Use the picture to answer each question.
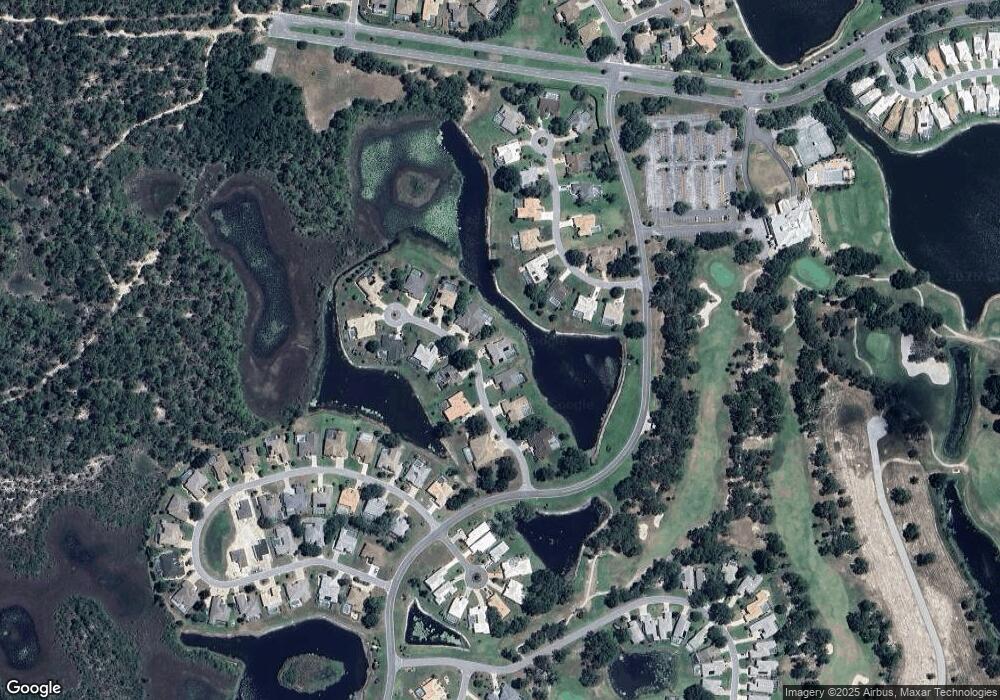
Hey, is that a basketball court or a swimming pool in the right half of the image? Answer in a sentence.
You can see a swimming pool in the right half of the image.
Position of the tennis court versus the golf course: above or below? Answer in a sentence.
The tennis court is located above the golf course in this view.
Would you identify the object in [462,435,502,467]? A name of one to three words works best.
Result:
house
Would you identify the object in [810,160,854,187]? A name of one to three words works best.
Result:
swimming pool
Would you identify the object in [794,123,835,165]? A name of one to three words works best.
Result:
tennis court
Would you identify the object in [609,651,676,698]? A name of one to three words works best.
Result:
pond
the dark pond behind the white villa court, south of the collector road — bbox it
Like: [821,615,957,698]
[518,502,603,573]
